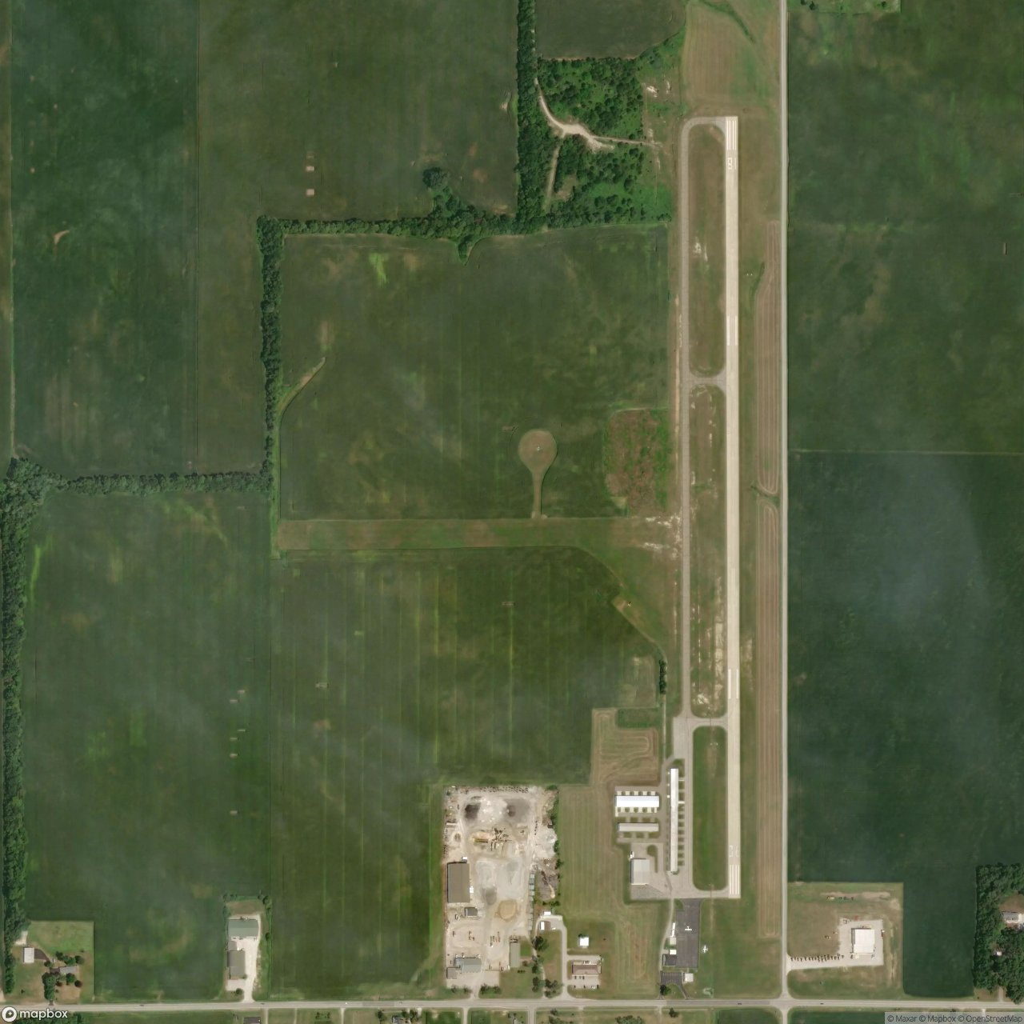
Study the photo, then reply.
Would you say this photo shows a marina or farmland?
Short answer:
farmland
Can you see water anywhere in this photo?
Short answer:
No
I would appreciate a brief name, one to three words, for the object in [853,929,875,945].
building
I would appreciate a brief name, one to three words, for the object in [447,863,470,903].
building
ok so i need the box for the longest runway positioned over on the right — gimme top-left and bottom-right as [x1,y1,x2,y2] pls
[726,117,740,898]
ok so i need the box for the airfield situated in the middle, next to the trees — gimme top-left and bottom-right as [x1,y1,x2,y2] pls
[278,117,740,968]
